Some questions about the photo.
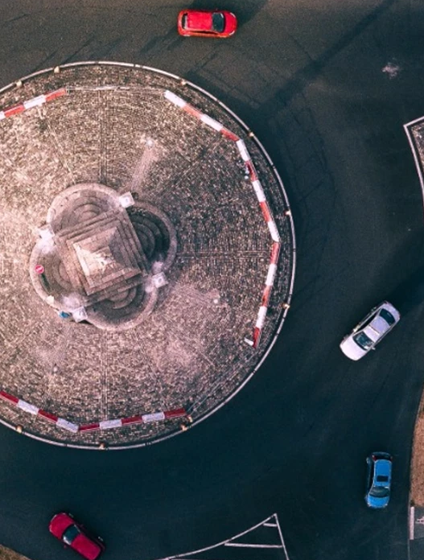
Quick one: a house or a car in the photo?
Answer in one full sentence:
There is a car in the scene.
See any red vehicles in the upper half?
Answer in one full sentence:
Yes, a red vehicle is visible in the upper half.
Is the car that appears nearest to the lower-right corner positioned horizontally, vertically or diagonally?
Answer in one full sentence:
From this overhead view, the car that appears nearest to the lower-right corner appears to run vertically.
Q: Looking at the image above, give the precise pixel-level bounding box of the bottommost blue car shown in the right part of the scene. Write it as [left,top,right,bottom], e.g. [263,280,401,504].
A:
[365,452,393,507]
